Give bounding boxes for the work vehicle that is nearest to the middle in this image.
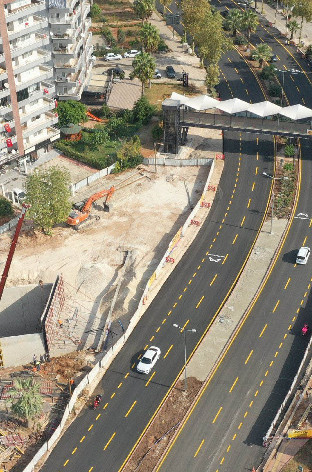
[70,184,111,225]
